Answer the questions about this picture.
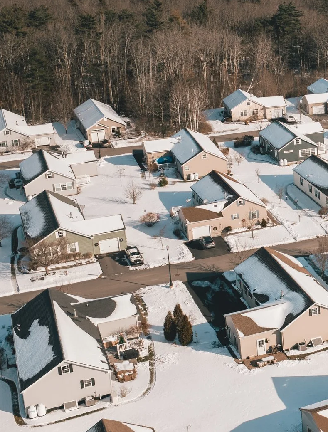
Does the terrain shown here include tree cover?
Yes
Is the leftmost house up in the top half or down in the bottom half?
top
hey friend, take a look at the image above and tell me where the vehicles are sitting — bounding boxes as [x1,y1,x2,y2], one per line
[284,111,294,121]
[78,137,91,146]
[99,137,112,147]
[124,247,143,264]
[197,234,215,249]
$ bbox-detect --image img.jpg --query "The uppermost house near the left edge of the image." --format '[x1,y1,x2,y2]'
[0,109,55,153]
